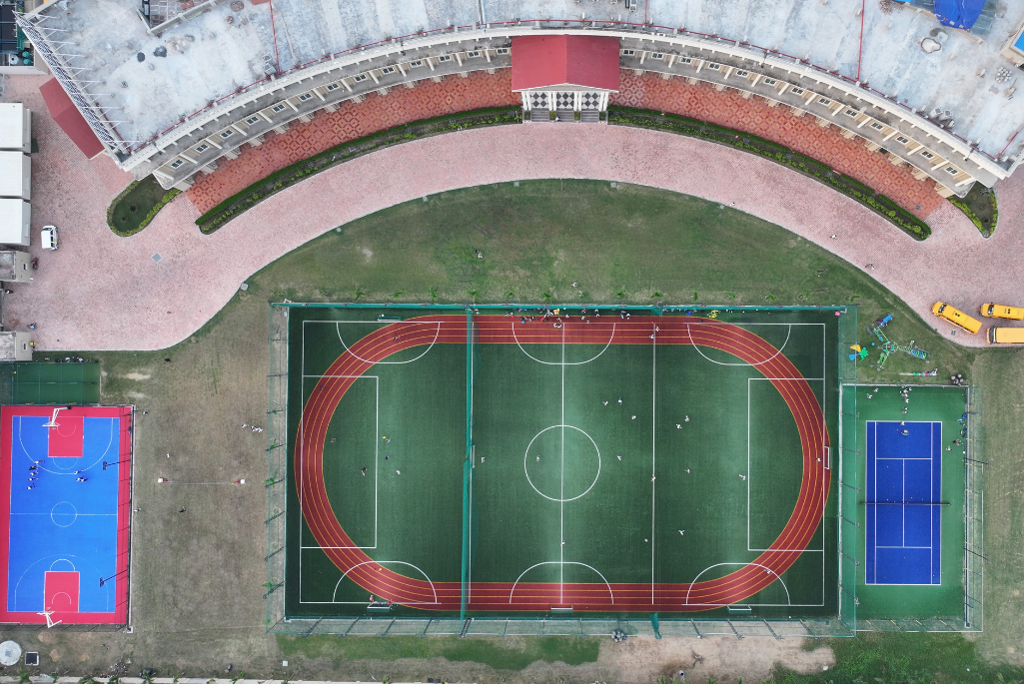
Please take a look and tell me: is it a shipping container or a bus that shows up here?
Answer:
bus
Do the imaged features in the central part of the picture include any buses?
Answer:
No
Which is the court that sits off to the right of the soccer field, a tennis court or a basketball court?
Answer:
tennis court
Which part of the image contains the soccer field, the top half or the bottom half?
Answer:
bottom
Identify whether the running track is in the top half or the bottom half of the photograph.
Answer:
bottom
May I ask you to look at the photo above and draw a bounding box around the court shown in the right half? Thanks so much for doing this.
[843,387,966,620]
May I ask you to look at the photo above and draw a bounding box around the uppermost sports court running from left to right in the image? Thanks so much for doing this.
[0,362,100,404]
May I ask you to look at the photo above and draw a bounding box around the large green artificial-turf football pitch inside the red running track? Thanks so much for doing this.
[285,309,840,619]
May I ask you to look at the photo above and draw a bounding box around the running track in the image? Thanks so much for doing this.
[294,315,831,612]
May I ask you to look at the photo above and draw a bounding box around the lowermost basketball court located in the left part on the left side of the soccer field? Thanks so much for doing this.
[0,405,131,624]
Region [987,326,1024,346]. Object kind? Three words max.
bus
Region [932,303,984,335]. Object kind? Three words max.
bus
